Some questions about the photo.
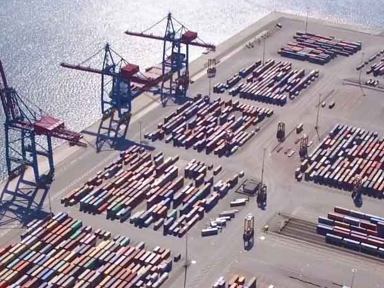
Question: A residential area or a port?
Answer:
port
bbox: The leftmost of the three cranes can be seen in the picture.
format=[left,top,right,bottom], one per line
[0,80,86,188]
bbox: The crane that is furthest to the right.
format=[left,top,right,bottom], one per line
[115,13,226,87]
